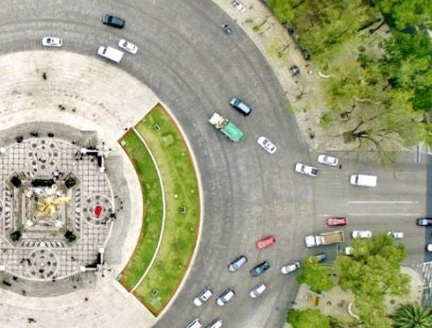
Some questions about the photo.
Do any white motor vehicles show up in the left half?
Yes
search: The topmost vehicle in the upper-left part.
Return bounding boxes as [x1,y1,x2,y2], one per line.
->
[102,14,125,27]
